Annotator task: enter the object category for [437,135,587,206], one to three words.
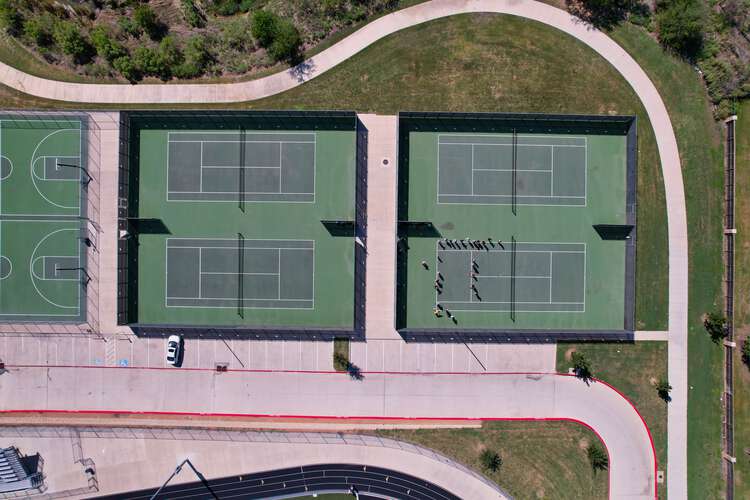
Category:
tennis court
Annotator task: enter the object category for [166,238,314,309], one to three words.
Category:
tennis court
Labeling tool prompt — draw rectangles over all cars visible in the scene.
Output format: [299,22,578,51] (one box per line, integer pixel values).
[163,335,179,366]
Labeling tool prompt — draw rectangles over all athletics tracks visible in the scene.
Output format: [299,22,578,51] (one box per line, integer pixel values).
[79,463,459,500]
